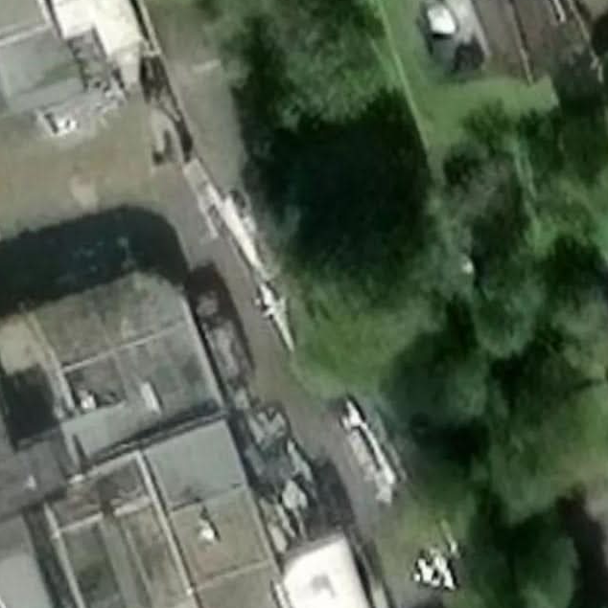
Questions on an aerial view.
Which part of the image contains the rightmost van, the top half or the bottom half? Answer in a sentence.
The top half of the photo is where the rightmost van is.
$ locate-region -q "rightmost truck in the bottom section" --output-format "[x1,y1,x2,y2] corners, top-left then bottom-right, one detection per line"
[338,403,399,503]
